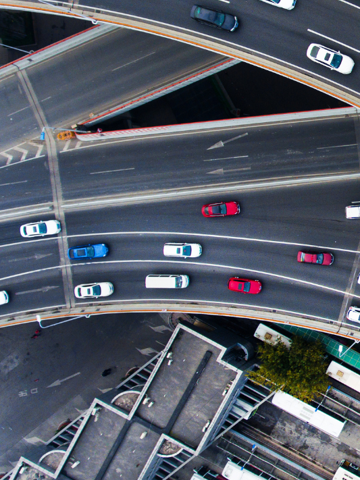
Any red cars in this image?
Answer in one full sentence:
Yes, a red car can be made out from above.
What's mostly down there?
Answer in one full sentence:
What you mostly see from above here is paved ground.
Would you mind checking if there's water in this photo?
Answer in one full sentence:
No, the picture contains no water.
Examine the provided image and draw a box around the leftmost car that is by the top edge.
[190,3,241,33]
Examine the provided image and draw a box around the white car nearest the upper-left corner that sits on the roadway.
[20,219,63,237]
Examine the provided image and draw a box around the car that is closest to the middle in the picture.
[163,242,204,260]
